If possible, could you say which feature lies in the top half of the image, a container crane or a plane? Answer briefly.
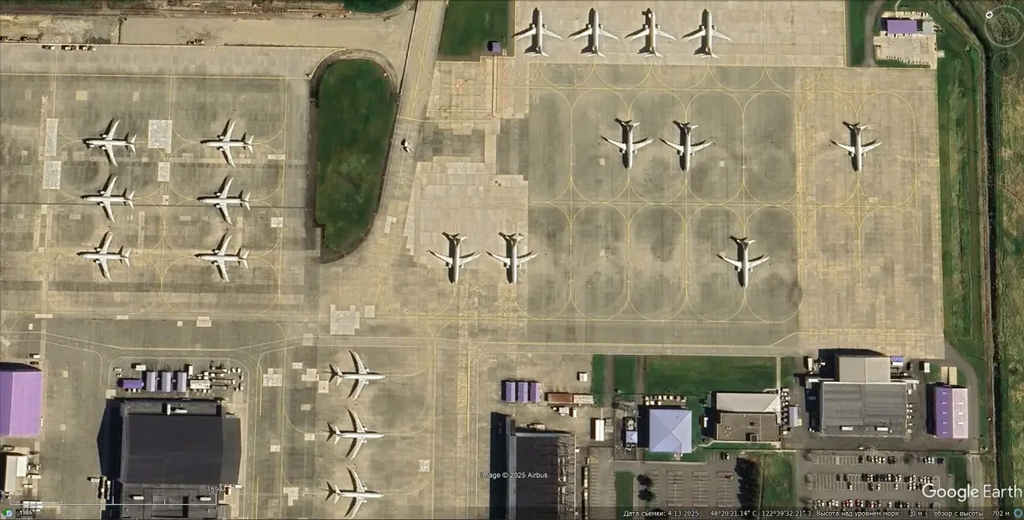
plane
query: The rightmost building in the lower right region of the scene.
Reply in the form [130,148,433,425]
[936,388,969,439]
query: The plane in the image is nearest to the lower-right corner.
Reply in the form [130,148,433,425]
[722,236,769,287]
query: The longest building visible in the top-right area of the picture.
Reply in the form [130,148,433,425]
[887,19,918,33]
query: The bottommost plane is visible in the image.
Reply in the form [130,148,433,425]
[332,471,383,519]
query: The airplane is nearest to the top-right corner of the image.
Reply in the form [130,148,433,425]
[836,121,885,172]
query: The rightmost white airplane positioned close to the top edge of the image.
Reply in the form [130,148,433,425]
[686,8,733,59]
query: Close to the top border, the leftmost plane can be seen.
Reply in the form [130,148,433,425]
[517,7,565,58]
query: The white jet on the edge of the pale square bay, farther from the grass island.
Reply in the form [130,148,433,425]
[491,233,538,283]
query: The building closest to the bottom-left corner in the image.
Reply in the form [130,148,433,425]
[0,453,36,492]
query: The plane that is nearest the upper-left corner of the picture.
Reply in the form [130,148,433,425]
[86,120,136,167]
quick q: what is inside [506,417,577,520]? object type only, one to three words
hangar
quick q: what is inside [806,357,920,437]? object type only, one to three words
building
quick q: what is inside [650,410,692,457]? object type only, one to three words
building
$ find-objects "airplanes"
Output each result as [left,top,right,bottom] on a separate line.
[197,234,248,282]
[607,118,654,169]
[431,233,480,284]
[203,120,254,166]
[686,8,733,59]
[517,7,565,58]
[86,120,136,167]
[334,352,385,401]
[664,120,712,171]
[491,233,538,283]
[200,176,251,225]
[80,232,130,280]
[83,175,134,222]
[629,8,678,58]
[836,121,885,172]
[722,236,769,287]
[332,412,383,460]
[572,8,621,58]
[332,471,383,519]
